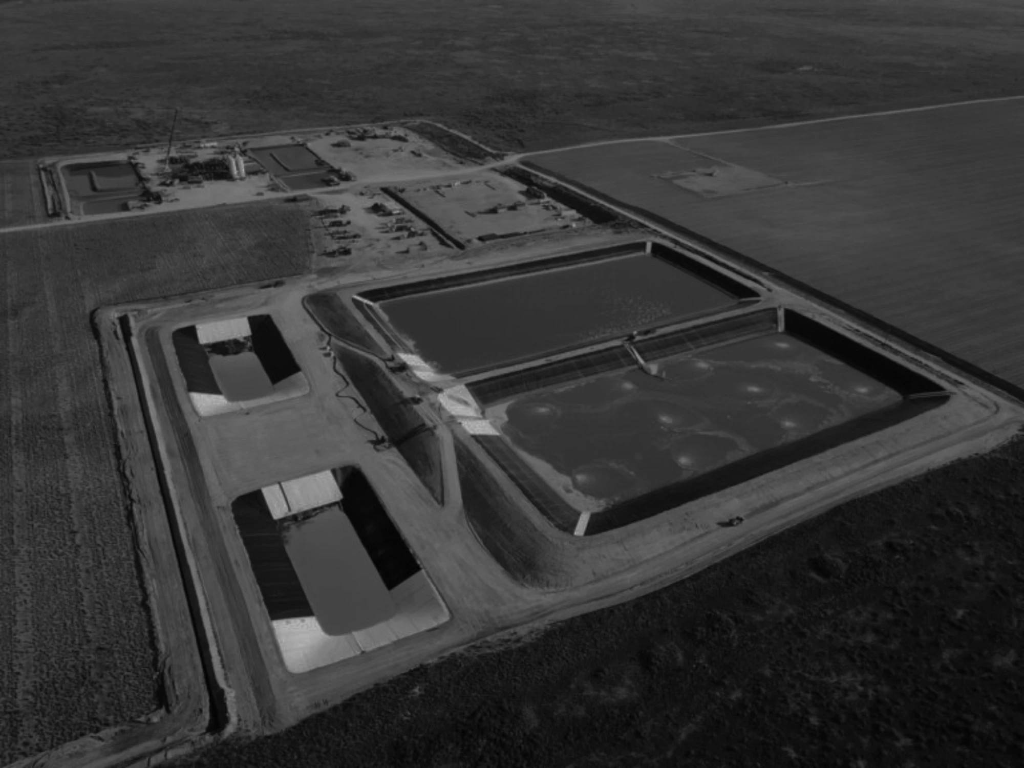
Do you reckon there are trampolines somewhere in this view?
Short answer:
No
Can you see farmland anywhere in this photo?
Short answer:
Yes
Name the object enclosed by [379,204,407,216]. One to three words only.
vehicle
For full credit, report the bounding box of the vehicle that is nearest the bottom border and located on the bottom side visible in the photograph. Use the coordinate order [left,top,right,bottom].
[730,514,744,528]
